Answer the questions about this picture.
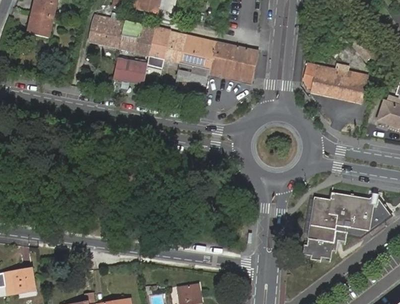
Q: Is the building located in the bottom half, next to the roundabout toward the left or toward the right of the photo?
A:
right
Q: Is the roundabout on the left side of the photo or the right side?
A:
right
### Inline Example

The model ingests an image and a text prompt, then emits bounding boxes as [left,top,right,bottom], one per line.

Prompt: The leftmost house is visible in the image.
[0,267,36,297]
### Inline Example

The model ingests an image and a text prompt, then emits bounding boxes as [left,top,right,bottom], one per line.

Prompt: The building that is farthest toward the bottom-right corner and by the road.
[303,192,390,262]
